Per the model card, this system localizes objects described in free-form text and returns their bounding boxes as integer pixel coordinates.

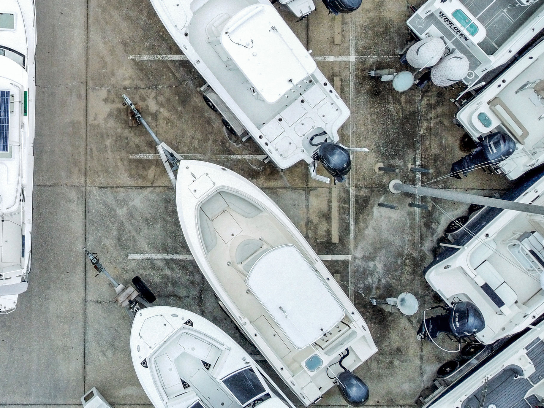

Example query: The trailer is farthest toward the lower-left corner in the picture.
[89,241,161,321]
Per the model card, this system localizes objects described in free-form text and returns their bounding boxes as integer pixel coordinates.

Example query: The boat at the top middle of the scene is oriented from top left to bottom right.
[157,0,369,182]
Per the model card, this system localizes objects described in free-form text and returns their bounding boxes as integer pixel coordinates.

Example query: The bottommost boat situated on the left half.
[132,301,297,408]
